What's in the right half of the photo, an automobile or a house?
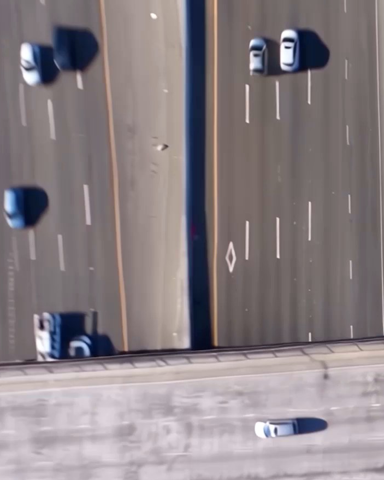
automobile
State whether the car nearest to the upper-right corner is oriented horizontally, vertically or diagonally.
vertically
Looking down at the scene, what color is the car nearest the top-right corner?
white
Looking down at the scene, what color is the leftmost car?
blue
